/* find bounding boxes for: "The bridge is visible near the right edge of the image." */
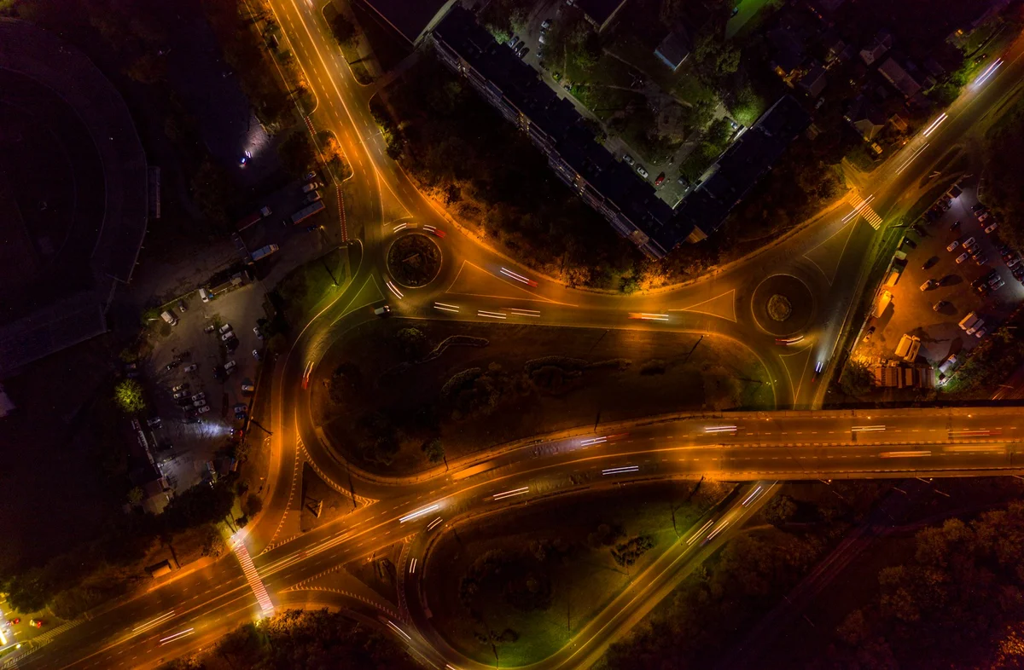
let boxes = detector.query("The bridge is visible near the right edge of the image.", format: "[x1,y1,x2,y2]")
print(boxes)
[739,409,1024,481]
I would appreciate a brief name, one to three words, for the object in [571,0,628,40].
building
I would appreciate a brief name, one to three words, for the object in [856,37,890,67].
house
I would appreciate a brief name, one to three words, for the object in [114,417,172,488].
shed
